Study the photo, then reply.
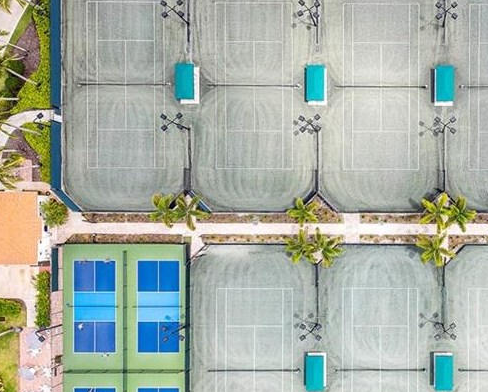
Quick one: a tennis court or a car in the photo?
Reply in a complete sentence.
Of the two, only a tennis court appears.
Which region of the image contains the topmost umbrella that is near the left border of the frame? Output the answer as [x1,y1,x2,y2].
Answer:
[21,333,38,347]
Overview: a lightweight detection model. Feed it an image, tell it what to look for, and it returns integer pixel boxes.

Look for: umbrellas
[21,333,38,347]
[15,367,33,384]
